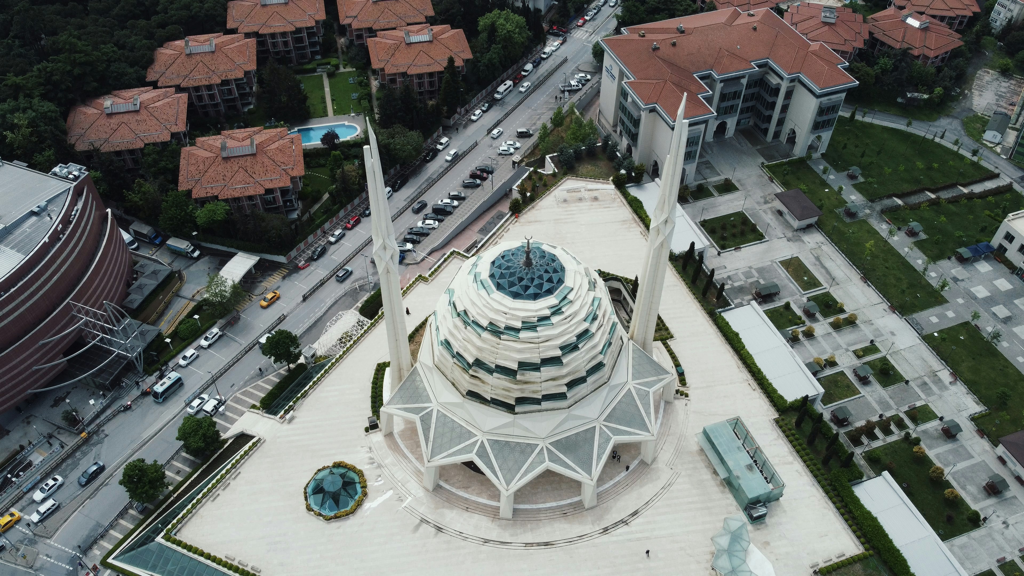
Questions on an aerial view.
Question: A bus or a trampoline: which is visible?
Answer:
bus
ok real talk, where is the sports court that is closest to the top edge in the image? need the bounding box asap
[973,69,1024,119]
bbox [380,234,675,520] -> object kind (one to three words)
building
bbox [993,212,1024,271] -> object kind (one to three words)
building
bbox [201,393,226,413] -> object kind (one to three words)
vehicle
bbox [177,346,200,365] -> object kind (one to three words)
car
